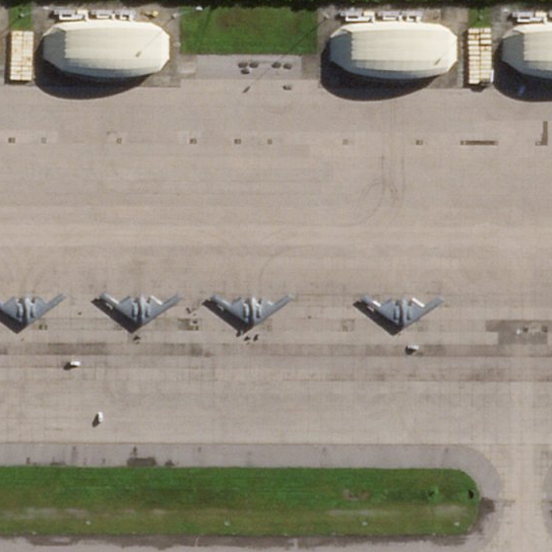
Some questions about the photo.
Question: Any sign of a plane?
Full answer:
Yes, there's a plane down there.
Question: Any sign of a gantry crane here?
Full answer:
No, no gantry crane is visible in the scene.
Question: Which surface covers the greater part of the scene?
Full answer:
What you mostly see from above here is paved ground.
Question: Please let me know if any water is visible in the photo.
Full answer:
No, there is no water in the image.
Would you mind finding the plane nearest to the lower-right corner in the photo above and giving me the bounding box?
[360,295,444,327]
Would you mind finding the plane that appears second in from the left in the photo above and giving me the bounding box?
[98,293,183,325]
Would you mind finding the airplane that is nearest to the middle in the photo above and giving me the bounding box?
[209,293,295,325]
